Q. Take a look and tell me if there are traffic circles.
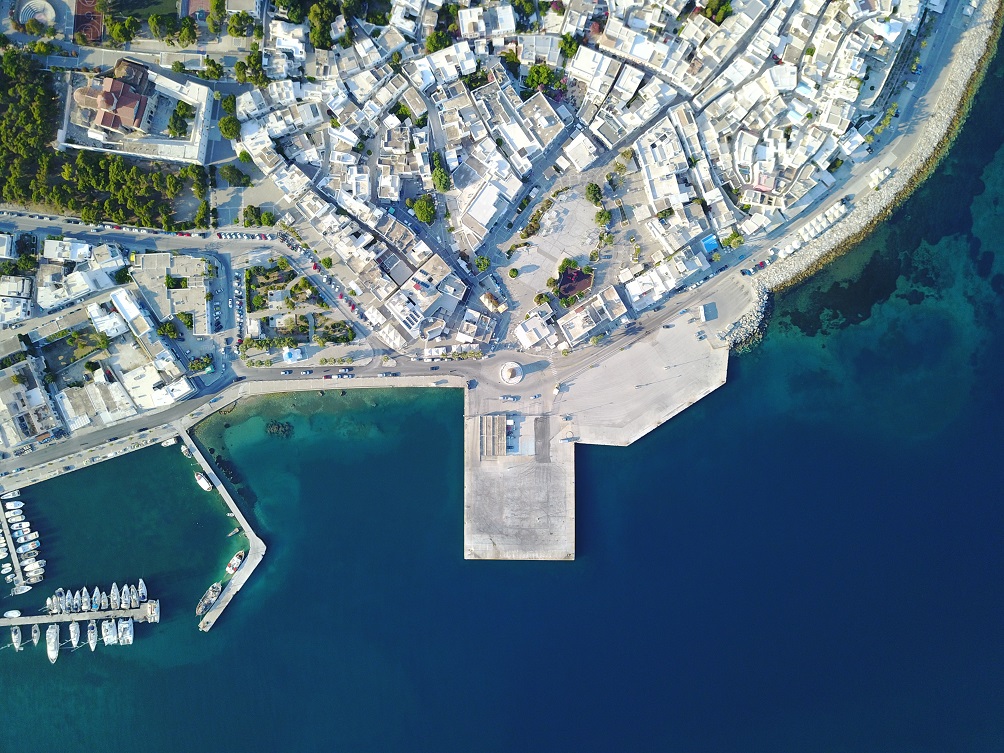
Yes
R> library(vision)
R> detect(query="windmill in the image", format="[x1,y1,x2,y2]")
[500,361,524,384]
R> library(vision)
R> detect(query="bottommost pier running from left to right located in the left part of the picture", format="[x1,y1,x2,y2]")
[0,601,159,626]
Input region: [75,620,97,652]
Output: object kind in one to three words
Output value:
boat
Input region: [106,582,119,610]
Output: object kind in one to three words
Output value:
boat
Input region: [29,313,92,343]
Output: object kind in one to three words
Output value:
house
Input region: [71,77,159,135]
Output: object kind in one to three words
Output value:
building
